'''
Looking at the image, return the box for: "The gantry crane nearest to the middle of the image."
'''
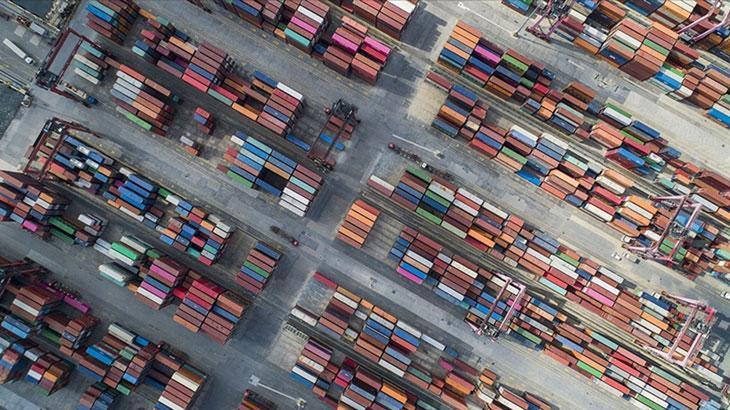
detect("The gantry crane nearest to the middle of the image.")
[304,101,361,173]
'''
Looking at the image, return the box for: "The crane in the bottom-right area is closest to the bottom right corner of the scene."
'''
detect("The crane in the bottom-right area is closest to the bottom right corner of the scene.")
[633,289,719,368]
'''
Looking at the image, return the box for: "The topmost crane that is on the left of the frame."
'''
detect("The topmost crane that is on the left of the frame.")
[31,26,115,105]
